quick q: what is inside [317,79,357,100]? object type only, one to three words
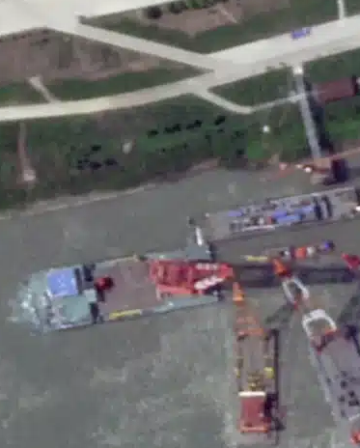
shed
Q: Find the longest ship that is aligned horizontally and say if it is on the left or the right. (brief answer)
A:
left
